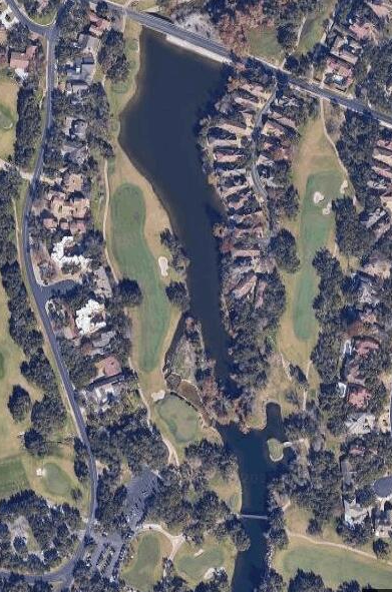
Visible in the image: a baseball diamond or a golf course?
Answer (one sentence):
It is a golf course that can be seen here.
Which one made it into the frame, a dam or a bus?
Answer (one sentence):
The one in the frame is a dam.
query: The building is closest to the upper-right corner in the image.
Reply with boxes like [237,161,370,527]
[370,0,392,23]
